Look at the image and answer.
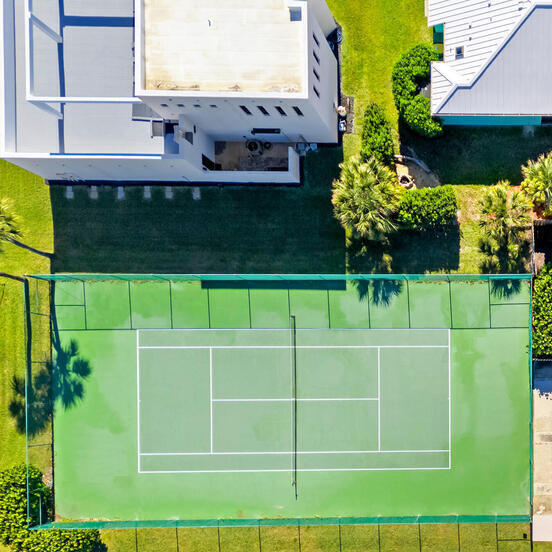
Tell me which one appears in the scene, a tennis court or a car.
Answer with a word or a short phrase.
tennis court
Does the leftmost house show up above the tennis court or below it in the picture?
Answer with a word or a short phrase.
above it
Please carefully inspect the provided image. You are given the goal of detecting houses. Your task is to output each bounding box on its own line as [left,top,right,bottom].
[428,0,552,125]
[1,0,337,184]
